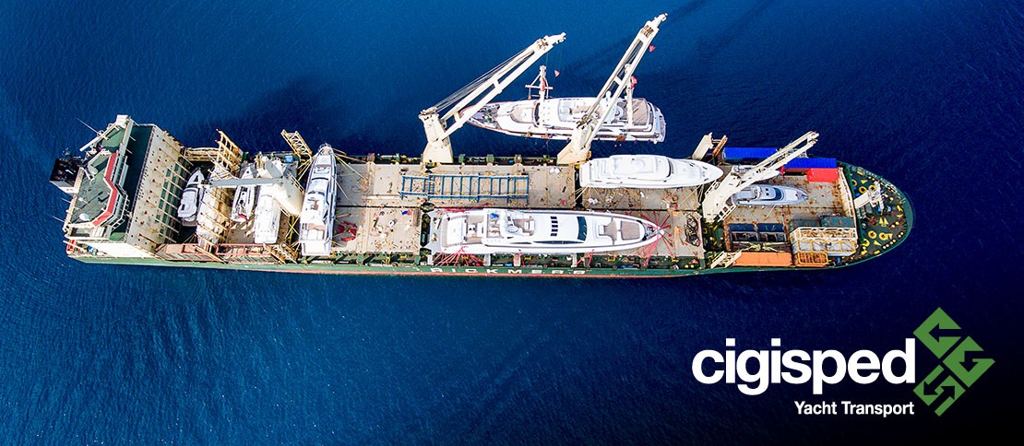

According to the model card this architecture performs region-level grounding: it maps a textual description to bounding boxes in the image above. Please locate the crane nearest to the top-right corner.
[859,178,893,208]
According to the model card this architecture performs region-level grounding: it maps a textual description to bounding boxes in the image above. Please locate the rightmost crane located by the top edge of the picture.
[558,6,672,171]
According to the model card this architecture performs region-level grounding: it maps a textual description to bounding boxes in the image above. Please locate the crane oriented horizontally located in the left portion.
[199,172,309,214]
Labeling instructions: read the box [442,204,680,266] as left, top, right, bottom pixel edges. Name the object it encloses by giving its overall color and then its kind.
white boat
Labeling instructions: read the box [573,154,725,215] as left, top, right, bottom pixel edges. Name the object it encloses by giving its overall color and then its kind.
white boat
